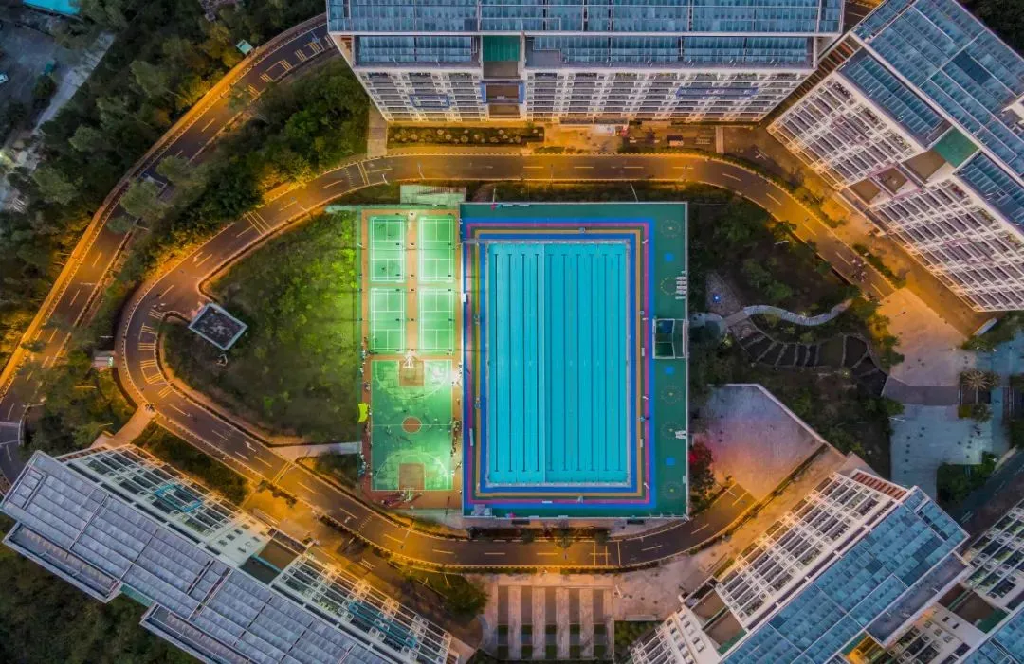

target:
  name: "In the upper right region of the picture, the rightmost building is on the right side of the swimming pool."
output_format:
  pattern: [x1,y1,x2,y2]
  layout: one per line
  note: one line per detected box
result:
[770,0,1024,312]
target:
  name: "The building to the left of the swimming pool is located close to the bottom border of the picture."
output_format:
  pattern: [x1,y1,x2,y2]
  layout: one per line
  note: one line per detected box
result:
[0,438,461,664]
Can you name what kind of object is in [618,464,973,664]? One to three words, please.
building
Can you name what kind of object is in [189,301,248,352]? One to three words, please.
building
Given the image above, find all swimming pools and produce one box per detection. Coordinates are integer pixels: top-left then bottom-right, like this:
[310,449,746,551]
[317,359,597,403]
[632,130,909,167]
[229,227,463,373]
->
[459,200,691,521]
